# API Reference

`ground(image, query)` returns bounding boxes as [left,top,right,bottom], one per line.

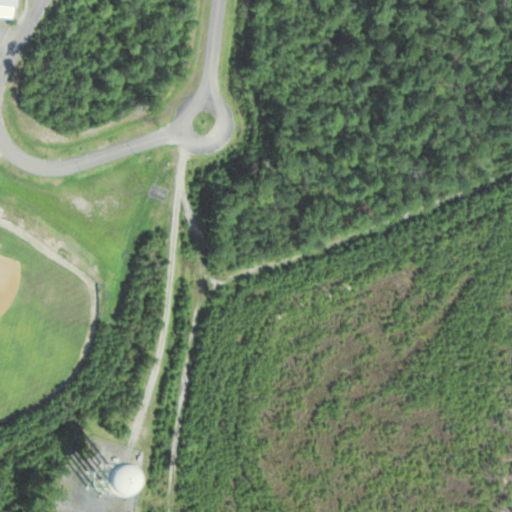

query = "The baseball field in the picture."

[0,218,97,421]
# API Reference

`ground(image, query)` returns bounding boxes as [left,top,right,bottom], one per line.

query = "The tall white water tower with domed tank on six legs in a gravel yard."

[87,462,142,500]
